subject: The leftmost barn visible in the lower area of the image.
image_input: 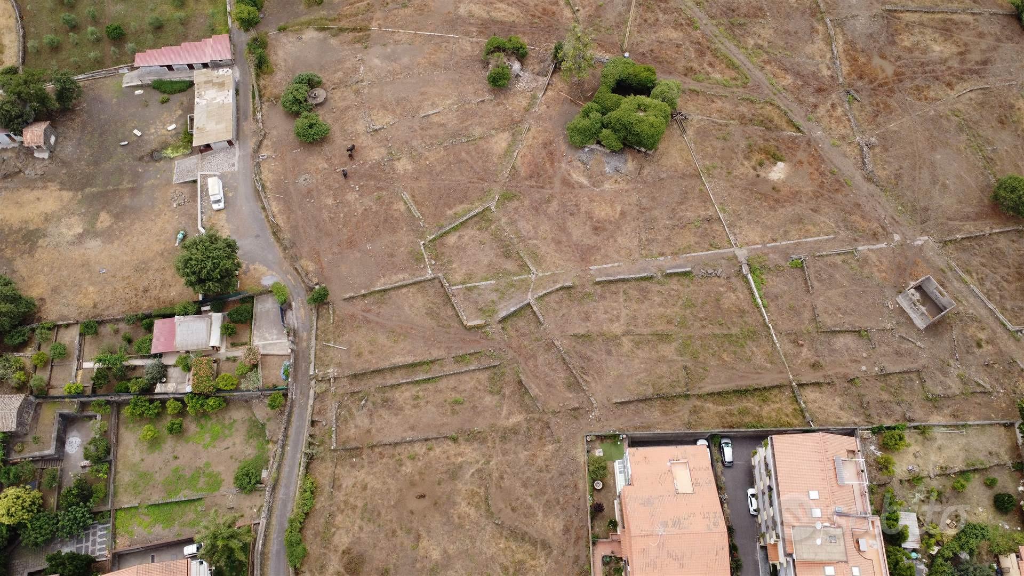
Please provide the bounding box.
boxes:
[0,394,37,436]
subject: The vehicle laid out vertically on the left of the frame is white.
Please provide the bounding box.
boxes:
[208,175,224,210]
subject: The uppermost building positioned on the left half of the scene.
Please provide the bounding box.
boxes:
[134,34,234,73]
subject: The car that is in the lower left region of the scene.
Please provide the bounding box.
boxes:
[178,542,199,557]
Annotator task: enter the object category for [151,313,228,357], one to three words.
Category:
house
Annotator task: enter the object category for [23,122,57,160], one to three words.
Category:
shed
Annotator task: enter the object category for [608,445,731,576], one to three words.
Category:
house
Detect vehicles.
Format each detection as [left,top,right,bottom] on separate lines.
[208,175,224,210]
[696,439,713,464]
[178,542,199,557]
[744,488,756,517]
[718,439,735,467]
